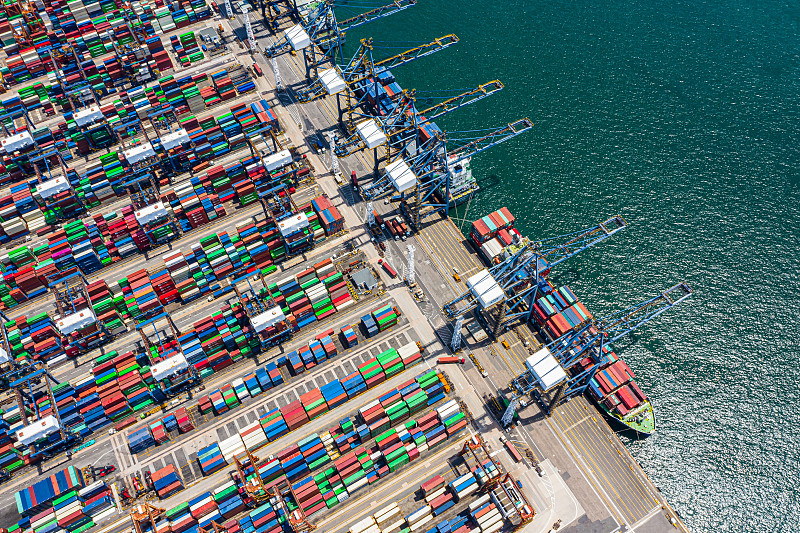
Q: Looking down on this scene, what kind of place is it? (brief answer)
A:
port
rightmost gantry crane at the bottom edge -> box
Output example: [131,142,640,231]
[491,472,537,530]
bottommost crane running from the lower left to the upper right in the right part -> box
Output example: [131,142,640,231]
[503,280,696,418]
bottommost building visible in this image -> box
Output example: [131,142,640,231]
[352,266,377,290]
